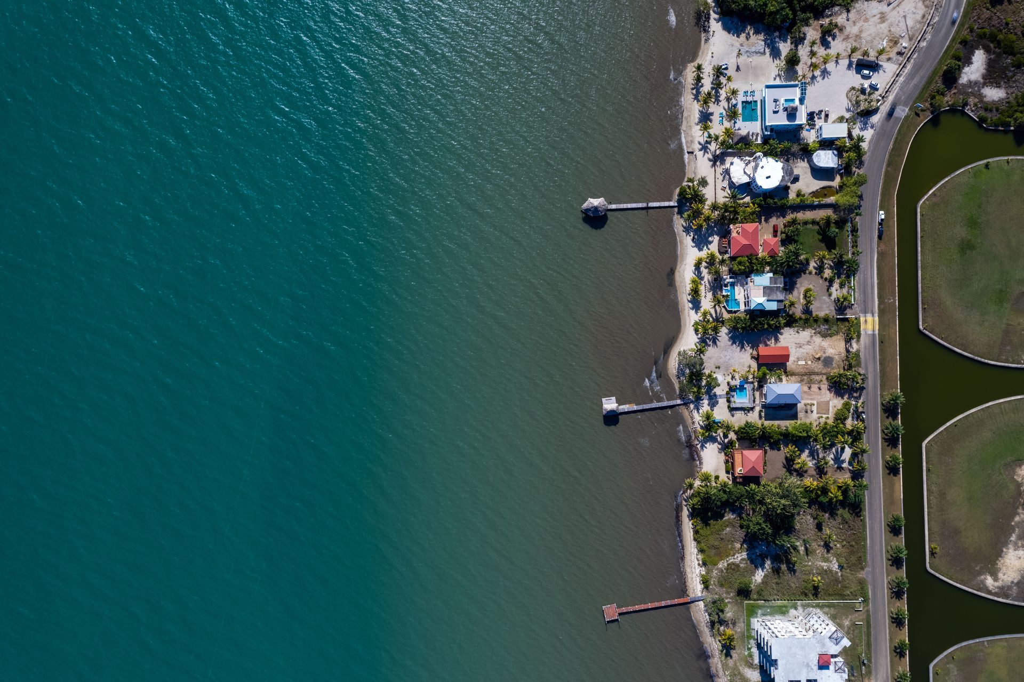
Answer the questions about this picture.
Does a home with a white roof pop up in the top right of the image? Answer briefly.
Yes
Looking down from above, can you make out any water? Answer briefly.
Yes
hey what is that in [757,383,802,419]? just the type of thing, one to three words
house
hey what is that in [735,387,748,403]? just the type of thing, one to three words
swimming pool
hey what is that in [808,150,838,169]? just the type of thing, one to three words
building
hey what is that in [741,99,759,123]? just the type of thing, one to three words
swimming pool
